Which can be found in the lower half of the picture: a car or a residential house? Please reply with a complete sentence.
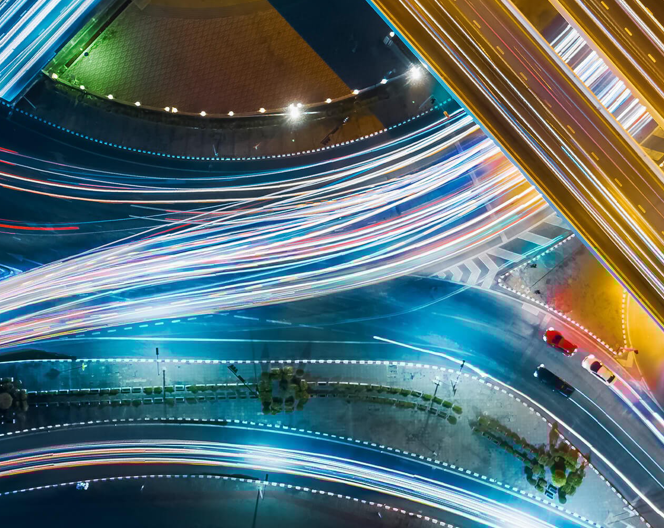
Visible in the lower half of the picture is a car.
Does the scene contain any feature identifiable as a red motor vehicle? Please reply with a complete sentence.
Yes, this view includes a red motor vehicle.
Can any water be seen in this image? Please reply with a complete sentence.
No, the picture contains no water.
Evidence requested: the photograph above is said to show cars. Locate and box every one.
[545,327,580,356]
[537,364,575,397]
[584,354,619,384]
